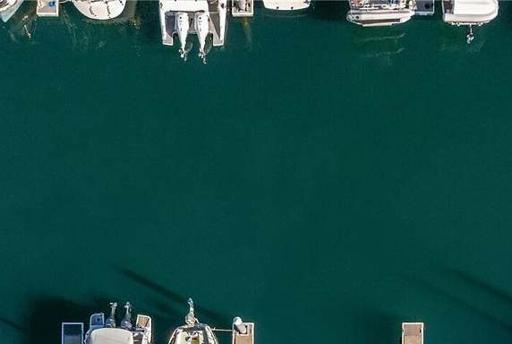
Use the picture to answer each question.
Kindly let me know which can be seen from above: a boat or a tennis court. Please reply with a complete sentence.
Of the two, only a boat appears.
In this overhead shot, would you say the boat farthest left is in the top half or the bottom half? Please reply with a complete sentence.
Seen from above, the boat farthest left lies in the top half of the view.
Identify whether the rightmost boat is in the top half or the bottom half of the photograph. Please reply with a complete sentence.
The rightmost boat sits in the top half of the picture.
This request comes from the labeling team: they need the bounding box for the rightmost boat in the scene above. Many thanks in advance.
[441,0,500,45]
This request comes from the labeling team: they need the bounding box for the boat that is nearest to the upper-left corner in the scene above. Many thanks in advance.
[0,0,32,28]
